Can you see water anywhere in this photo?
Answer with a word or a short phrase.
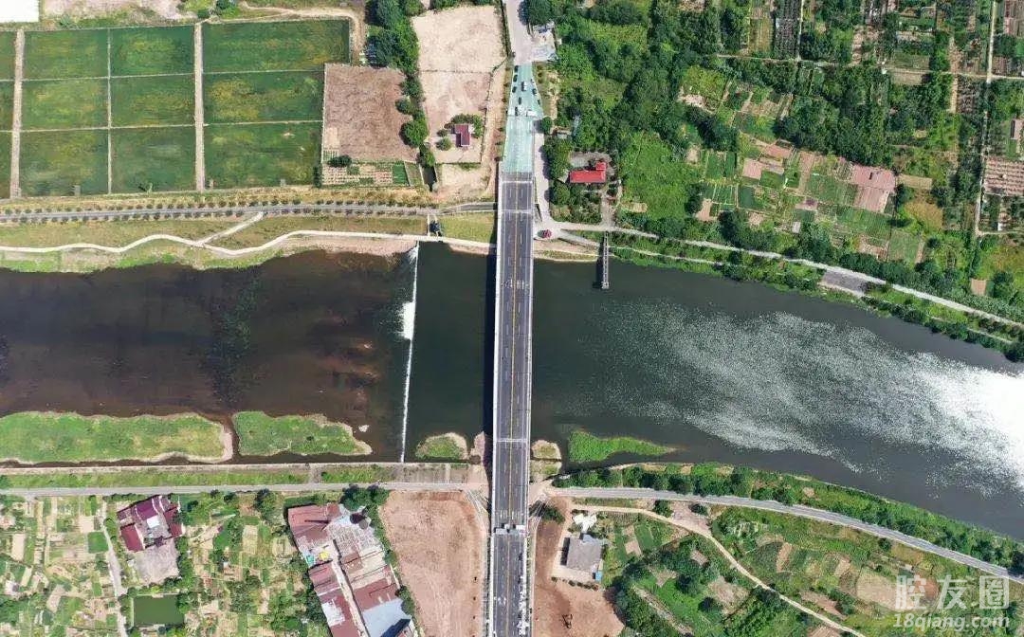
Yes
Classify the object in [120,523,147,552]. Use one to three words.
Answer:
house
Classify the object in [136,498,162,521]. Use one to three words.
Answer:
house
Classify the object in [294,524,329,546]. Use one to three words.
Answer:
shed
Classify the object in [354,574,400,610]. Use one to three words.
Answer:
shed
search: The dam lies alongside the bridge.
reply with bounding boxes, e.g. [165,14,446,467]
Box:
[383,243,419,463]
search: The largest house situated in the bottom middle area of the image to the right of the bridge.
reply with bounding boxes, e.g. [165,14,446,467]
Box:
[567,536,601,572]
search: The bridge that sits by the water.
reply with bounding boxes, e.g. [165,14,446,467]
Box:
[490,173,534,637]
